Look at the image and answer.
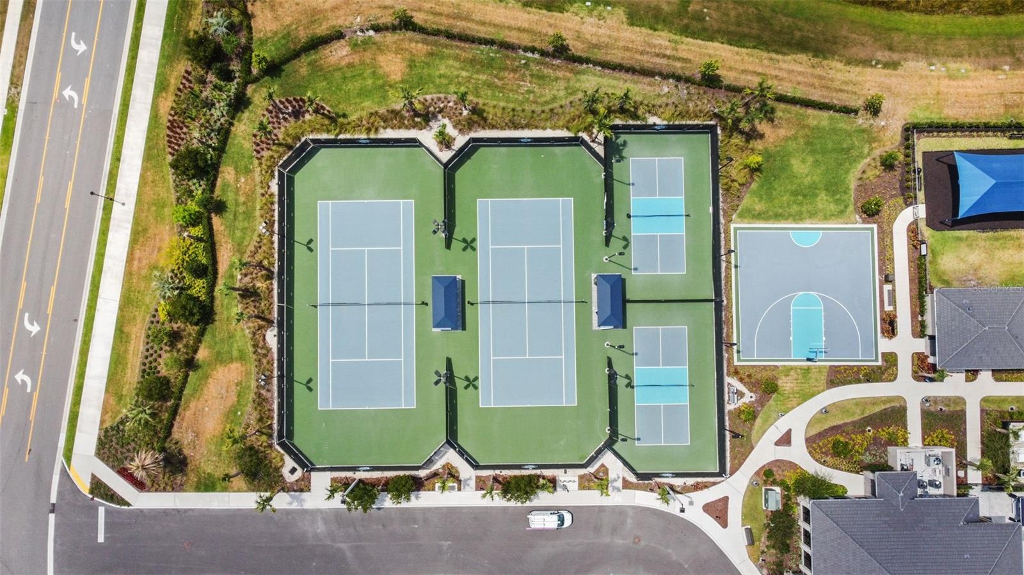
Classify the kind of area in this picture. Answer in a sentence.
What you see here is a sports ground.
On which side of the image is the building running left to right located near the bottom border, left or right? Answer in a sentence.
It is on the right.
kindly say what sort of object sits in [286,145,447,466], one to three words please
tennis court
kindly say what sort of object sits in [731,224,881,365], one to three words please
basketball court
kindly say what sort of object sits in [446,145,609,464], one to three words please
tennis court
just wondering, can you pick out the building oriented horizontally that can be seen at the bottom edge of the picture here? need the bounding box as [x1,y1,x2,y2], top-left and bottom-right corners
[799,468,1023,575]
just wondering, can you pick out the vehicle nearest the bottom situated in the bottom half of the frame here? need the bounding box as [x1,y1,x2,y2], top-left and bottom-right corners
[528,510,573,532]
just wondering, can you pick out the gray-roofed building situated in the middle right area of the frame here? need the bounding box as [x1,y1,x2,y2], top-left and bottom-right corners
[924,287,1024,370]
